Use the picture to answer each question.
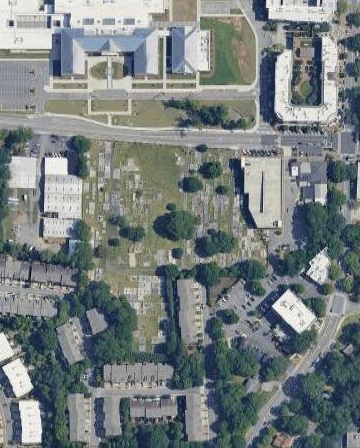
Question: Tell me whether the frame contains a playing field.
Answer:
Yes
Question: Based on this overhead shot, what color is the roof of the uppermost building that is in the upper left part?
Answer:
white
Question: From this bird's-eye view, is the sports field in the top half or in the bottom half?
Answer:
top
